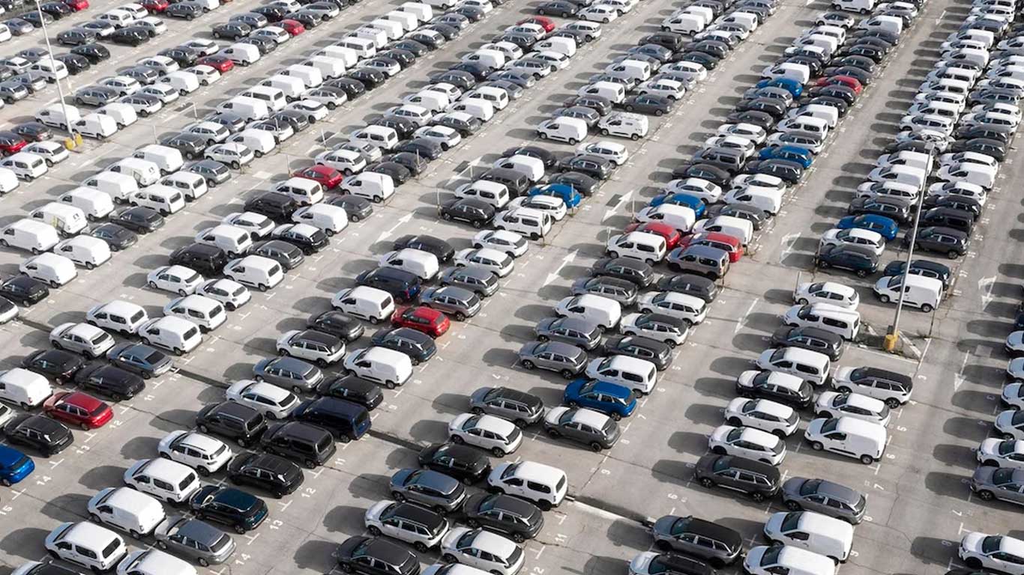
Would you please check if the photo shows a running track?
No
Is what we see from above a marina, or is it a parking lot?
parking lot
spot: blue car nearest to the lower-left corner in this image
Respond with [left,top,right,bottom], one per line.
[0,444,38,487]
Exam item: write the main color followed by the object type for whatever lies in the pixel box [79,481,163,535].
white van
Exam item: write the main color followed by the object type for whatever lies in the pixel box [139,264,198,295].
white car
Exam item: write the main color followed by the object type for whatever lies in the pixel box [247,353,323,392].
gray car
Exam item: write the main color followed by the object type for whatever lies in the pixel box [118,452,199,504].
white van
